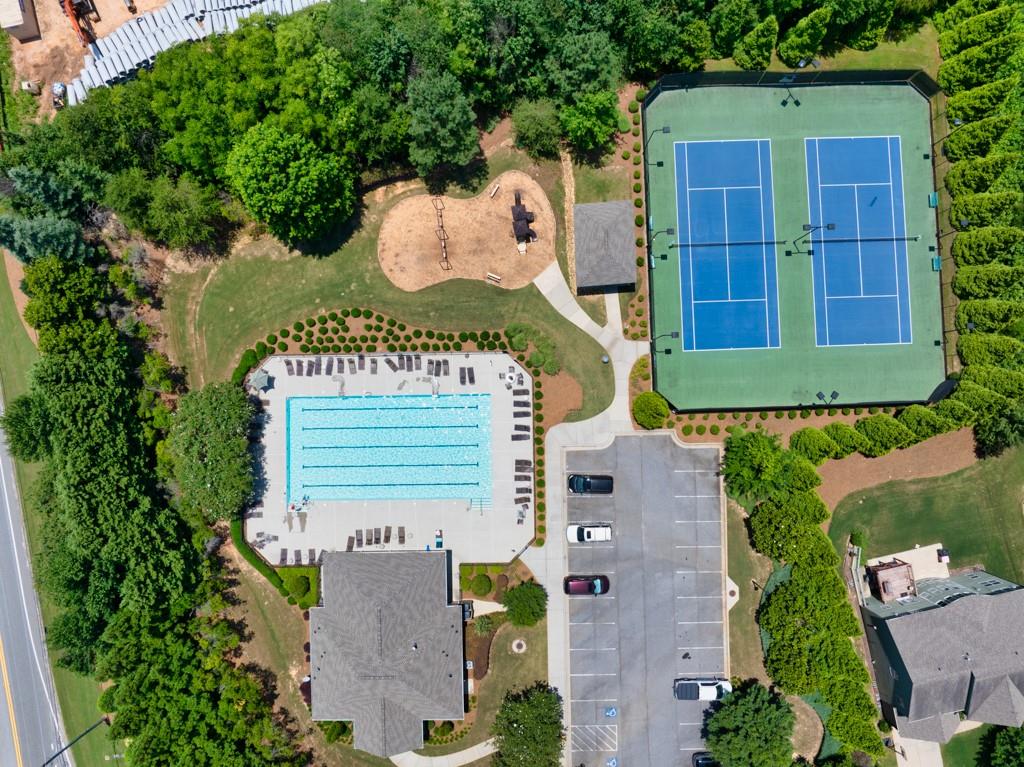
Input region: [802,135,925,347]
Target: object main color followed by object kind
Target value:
blue tennis court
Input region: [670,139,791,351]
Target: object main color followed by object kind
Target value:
blue tennis court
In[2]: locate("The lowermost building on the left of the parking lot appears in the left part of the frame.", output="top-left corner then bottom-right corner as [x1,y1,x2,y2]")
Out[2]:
[309,551,465,761]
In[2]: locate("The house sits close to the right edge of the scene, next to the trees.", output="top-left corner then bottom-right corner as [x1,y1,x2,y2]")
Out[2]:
[859,557,1024,746]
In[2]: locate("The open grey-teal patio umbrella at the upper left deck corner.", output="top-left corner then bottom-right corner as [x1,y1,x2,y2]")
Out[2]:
[250,369,271,390]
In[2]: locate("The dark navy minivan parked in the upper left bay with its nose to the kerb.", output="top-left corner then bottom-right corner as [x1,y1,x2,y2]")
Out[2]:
[568,474,614,496]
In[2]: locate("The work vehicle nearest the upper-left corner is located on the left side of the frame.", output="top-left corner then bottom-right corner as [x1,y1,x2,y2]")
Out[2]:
[61,0,98,51]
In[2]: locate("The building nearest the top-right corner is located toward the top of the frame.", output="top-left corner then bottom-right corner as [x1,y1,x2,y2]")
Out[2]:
[573,201,637,288]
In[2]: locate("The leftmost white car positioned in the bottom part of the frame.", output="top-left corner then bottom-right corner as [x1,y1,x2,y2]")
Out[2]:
[568,526,611,546]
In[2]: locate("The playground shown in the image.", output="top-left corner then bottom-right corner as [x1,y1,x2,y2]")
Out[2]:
[379,171,556,291]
